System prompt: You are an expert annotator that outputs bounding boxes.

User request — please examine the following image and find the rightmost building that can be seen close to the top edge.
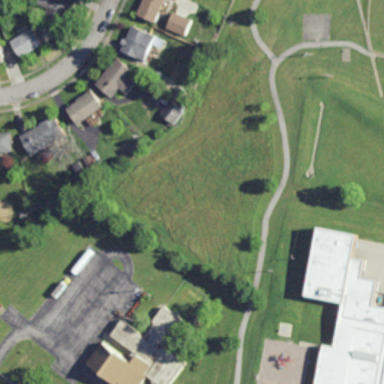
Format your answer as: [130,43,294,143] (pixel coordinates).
[167,13,192,36]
